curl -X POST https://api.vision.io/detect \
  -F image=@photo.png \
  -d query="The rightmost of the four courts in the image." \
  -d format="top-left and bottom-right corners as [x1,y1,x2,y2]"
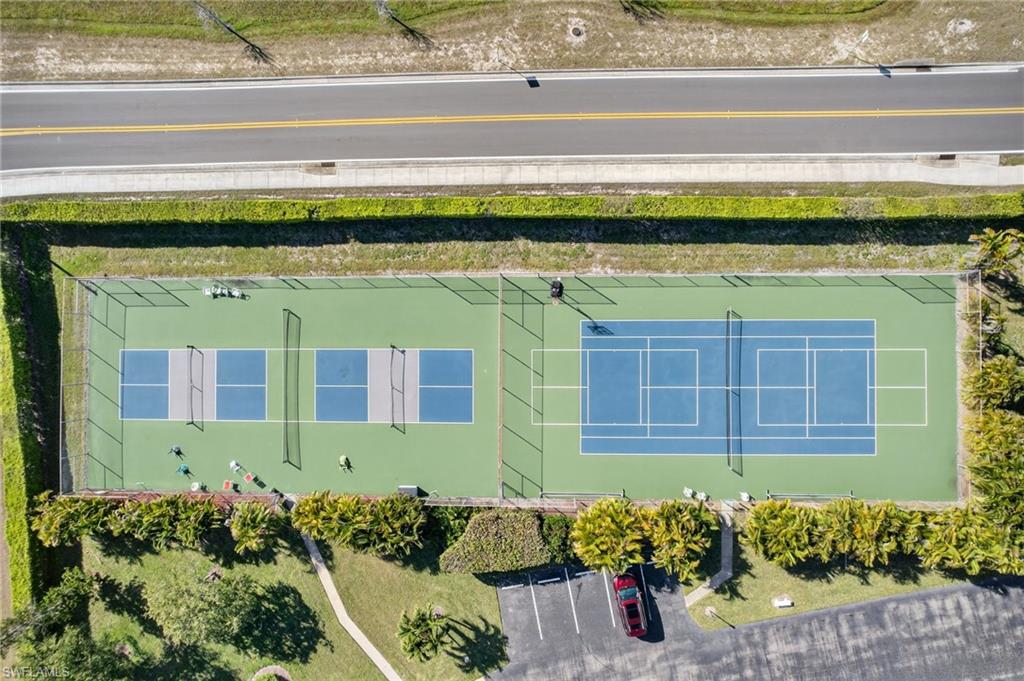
[501,275,959,502]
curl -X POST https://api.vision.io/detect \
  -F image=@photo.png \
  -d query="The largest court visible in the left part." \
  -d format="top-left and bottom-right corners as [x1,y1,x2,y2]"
[87,277,500,498]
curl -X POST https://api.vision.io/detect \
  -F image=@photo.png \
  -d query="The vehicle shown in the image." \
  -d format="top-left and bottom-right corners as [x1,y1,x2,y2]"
[615,571,647,638]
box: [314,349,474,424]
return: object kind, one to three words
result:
sports court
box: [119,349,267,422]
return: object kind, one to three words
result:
sports court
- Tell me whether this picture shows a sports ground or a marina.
sports ground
